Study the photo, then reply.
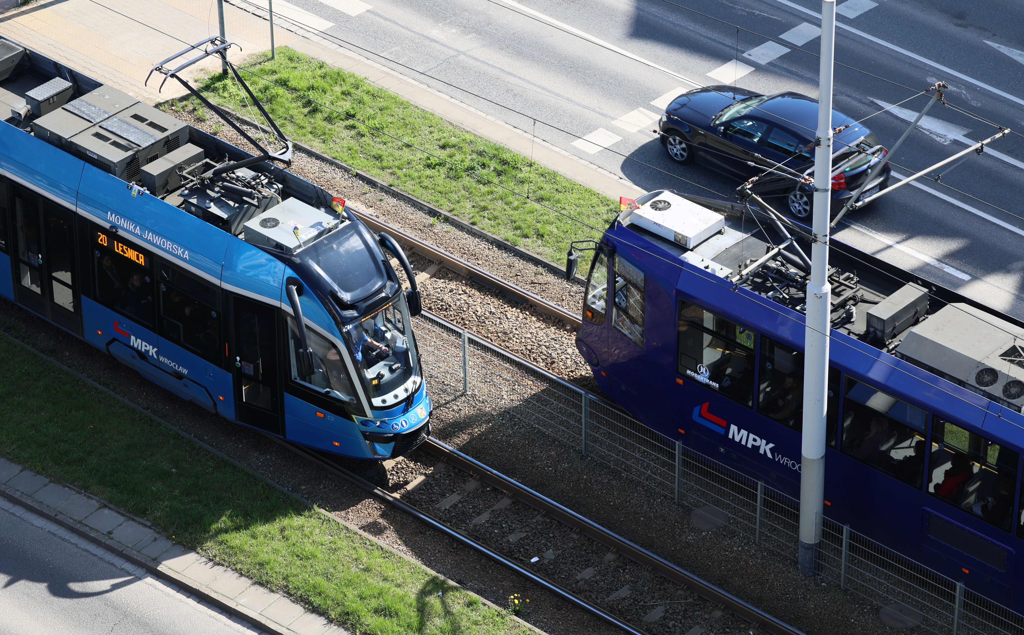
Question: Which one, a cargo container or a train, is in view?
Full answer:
It is a train that can be seen here.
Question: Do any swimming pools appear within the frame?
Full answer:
No, there isn't any swimming pool down there.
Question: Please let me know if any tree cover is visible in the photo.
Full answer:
No, the scene doesn't show any tree cover.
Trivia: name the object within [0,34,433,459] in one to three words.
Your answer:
train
